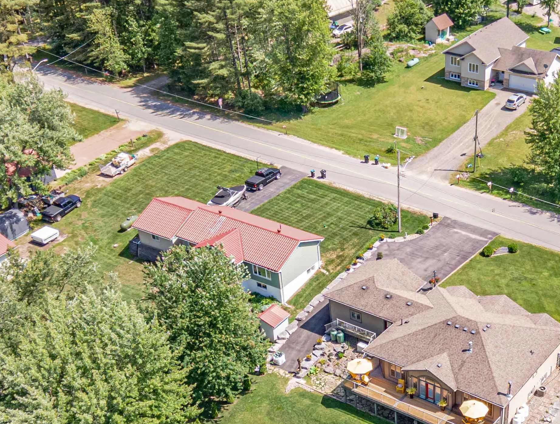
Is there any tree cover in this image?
Yes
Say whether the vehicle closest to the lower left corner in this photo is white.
Yes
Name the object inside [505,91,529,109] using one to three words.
car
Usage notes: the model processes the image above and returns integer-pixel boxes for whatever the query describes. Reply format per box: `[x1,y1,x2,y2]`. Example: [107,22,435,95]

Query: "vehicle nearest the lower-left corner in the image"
[24,223,66,246]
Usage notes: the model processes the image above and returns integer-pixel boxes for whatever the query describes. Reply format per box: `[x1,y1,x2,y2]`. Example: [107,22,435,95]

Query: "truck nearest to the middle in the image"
[244,166,284,193]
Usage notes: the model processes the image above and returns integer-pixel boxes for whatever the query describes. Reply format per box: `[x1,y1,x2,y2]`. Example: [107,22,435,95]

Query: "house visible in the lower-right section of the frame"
[320,263,560,424]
